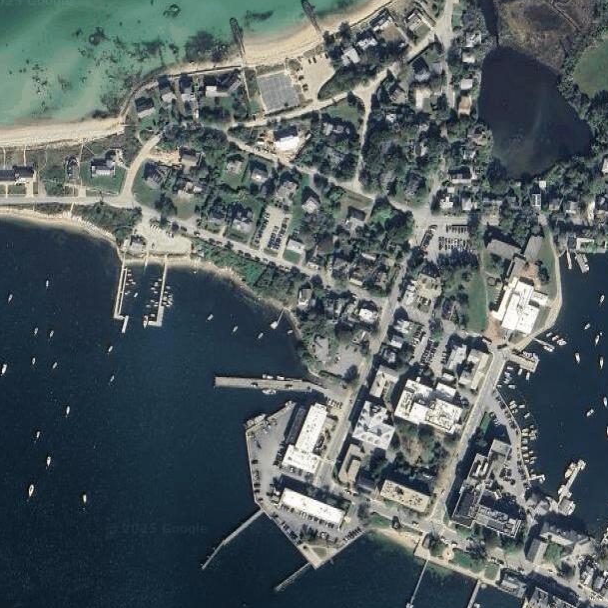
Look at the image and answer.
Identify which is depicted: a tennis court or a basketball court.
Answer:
tennis court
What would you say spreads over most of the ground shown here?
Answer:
water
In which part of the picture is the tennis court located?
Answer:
top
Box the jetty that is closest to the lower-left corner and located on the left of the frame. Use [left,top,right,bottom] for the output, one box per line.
[201,510,263,570]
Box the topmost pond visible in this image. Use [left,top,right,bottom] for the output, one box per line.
[478,0,592,180]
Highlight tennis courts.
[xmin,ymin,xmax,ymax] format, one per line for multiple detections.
[257,72,299,113]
